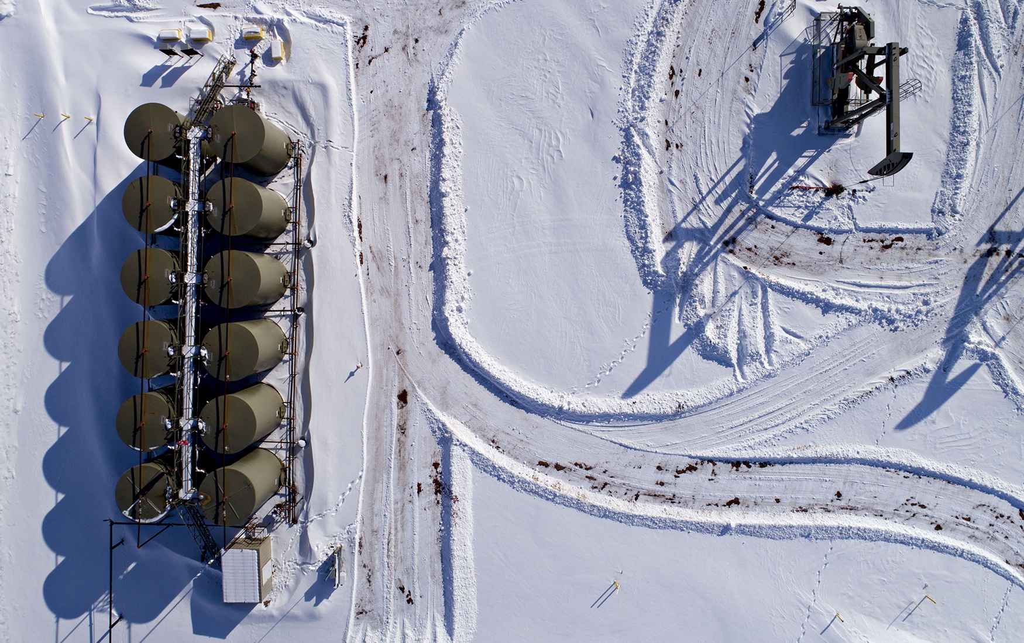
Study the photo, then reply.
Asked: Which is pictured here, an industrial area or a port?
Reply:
industrial area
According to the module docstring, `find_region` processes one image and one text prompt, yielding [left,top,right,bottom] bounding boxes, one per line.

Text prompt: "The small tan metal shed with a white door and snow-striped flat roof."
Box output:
[222,538,272,604]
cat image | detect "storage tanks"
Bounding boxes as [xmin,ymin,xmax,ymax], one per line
[198,448,292,526]
[120,249,185,308]
[118,318,183,380]
[123,101,217,175]
[202,320,293,383]
[121,175,187,240]
[203,251,295,310]
[117,382,181,452]
[205,178,296,243]
[207,104,300,177]
[200,384,291,455]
